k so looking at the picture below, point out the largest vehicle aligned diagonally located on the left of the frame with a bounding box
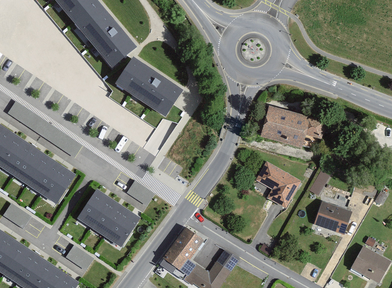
[114,136,128,152]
